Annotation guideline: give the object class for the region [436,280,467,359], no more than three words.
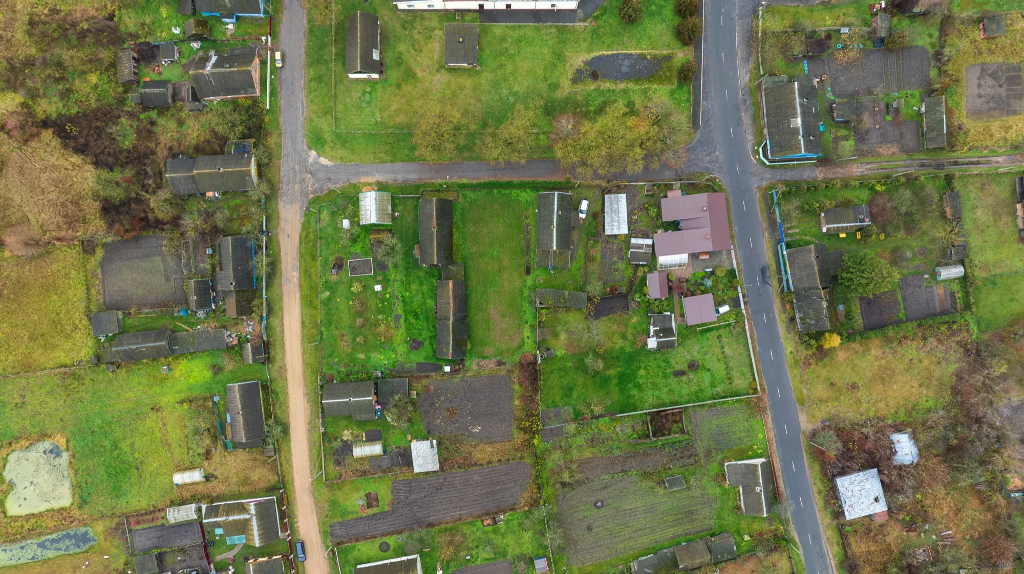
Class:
barn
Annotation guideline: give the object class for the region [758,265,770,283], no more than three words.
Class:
vehicle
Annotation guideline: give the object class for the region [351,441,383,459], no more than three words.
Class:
greenhouse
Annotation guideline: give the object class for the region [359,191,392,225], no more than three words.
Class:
building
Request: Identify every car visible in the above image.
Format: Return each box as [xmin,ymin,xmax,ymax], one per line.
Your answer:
[297,541,306,561]
[758,265,770,283]
[579,199,588,218]
[715,304,731,315]
[276,51,284,68]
